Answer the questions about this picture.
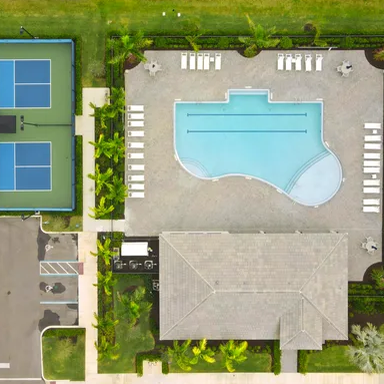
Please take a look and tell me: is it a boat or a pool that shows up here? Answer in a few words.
pool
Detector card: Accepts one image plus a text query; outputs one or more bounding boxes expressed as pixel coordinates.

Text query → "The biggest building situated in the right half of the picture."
[160,228,350,351]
